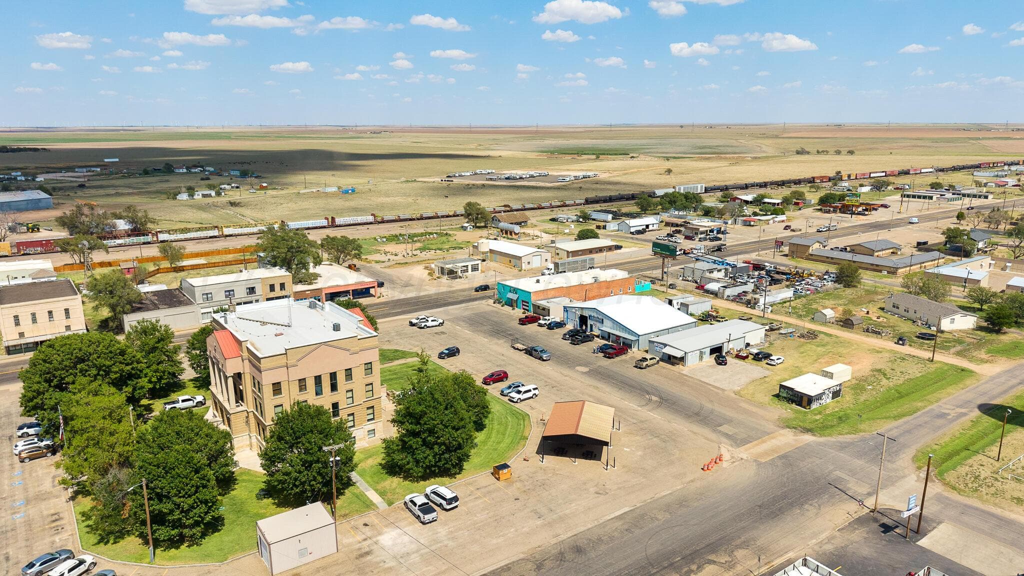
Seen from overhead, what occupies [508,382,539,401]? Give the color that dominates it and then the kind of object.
white car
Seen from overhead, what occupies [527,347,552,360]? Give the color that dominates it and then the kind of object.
gray vehicle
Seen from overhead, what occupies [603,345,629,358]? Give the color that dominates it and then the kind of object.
red vehicle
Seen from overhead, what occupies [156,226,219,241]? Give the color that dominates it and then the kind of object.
white rail car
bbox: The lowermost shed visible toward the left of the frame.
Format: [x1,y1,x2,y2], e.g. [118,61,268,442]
[252,502,338,576]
